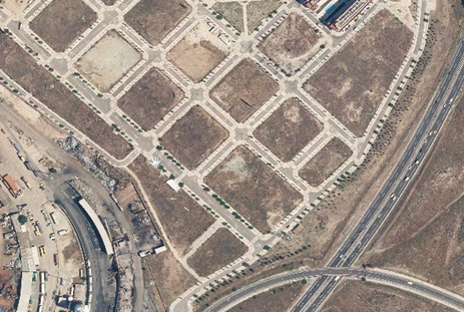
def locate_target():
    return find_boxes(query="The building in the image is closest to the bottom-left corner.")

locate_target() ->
[19,273,33,312]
